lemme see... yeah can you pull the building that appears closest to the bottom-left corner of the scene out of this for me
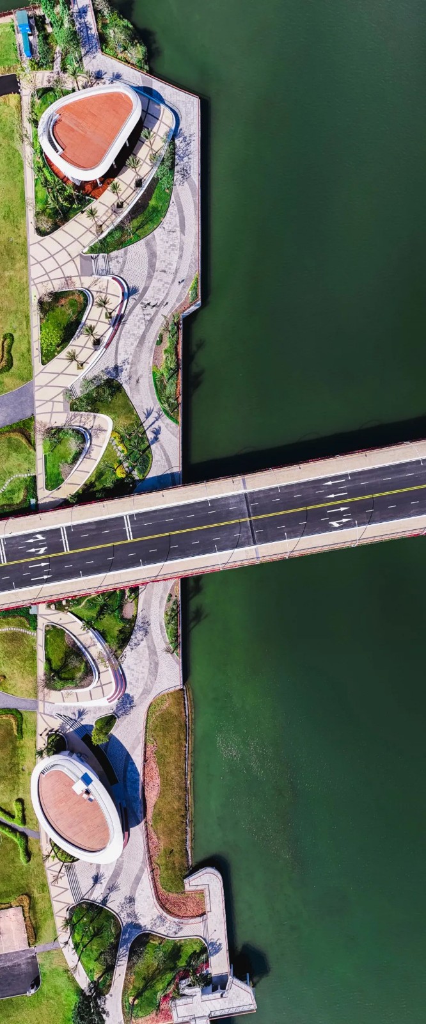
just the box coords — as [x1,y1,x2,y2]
[31,750,123,863]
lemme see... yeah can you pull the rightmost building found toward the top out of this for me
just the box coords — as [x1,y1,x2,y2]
[38,85,144,199]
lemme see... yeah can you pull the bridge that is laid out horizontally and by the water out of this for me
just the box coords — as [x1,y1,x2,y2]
[0,438,426,611]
